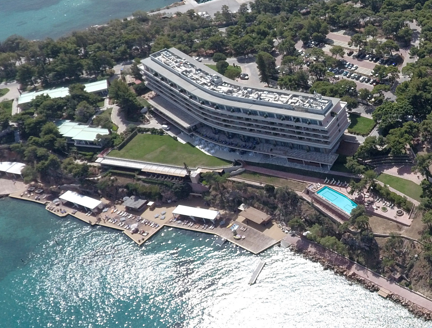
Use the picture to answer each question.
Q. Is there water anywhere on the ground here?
Yes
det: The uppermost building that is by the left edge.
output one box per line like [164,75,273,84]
[16,78,109,109]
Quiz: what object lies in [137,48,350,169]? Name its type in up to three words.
building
